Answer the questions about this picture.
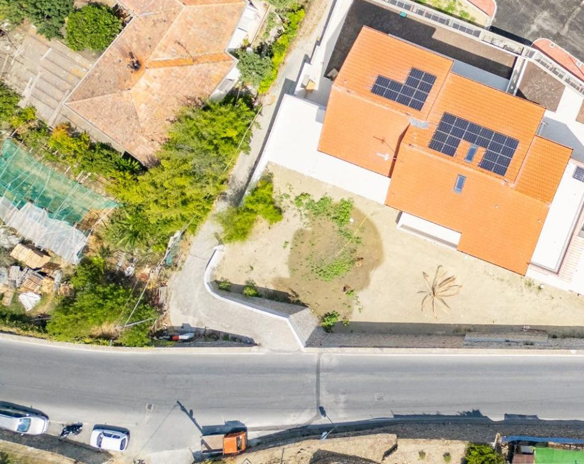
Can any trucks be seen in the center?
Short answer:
No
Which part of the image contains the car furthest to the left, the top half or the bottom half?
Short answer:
bottom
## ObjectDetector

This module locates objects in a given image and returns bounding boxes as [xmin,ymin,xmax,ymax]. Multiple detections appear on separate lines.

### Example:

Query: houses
[61,0,260,163]
[249,25,584,281]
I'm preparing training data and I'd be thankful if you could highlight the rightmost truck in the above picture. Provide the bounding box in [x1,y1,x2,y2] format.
[200,430,249,455]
